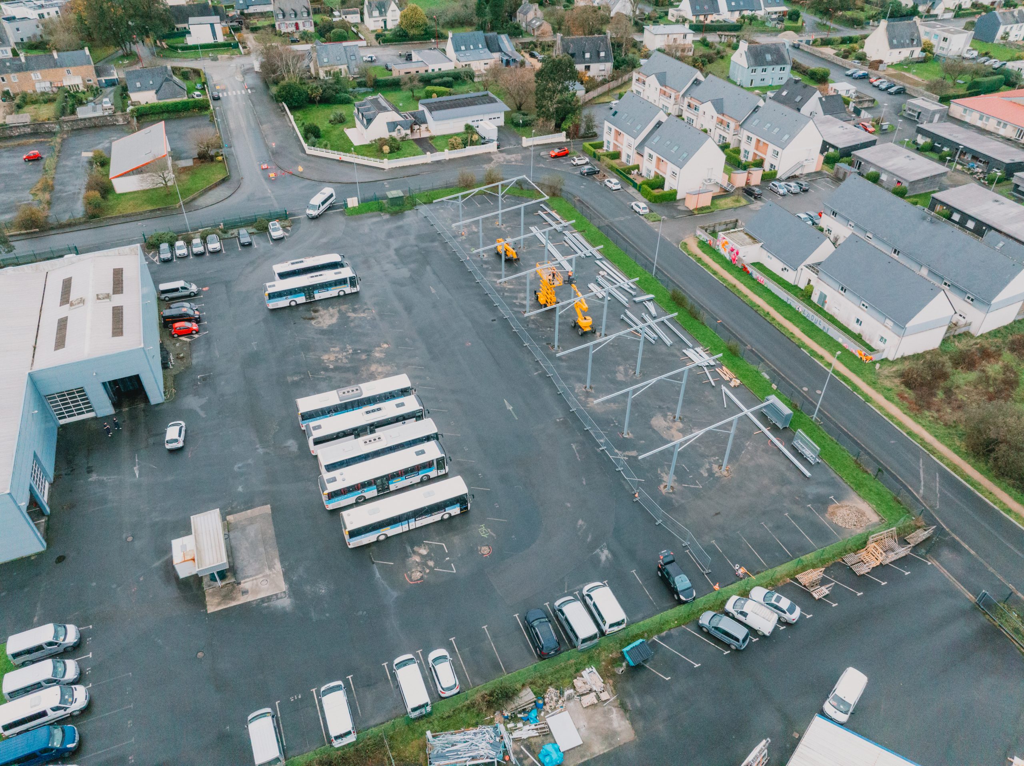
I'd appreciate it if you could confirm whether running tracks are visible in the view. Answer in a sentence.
No, there's no running track here.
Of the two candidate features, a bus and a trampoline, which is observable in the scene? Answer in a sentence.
The image shows a bus.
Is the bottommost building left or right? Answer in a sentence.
It is on the right.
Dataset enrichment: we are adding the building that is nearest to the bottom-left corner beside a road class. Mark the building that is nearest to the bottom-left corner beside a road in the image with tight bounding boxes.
[0,234,164,560]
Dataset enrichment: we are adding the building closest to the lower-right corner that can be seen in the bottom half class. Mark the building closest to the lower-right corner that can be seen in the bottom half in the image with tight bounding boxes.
[797,712,924,766]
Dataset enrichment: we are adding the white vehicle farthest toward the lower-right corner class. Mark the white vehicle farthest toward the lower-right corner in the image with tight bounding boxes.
[830,659,872,718]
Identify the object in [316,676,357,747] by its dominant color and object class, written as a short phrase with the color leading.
white van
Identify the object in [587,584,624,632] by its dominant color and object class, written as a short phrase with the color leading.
white van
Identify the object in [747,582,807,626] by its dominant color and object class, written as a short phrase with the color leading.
white car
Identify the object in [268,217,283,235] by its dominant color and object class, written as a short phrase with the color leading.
white car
